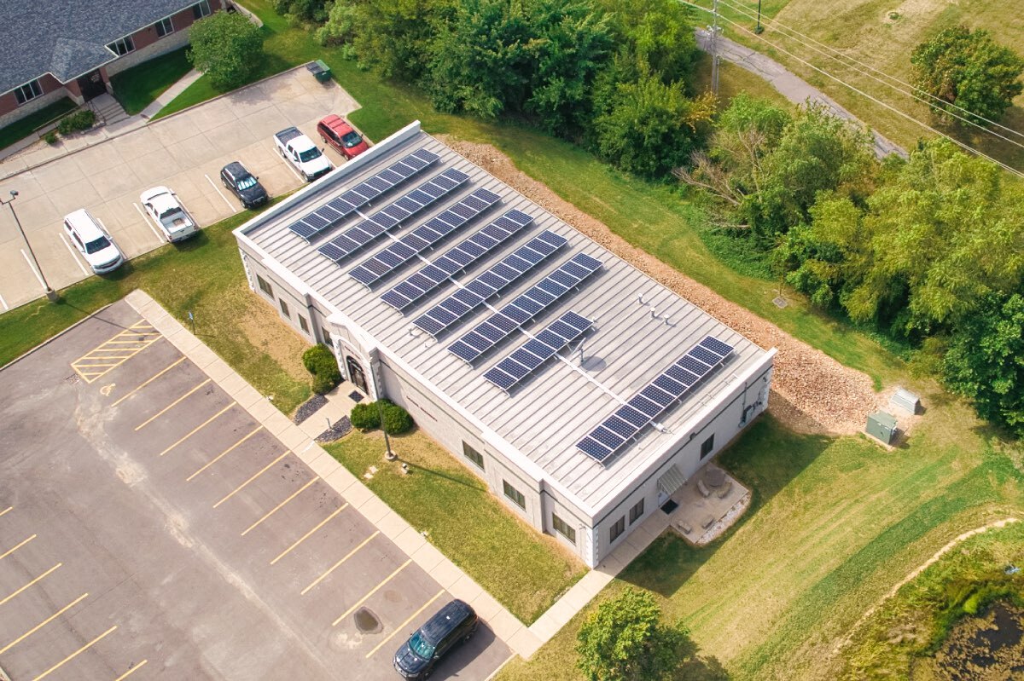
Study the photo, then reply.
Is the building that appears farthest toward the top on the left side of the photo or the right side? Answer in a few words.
left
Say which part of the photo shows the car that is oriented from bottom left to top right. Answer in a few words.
bottom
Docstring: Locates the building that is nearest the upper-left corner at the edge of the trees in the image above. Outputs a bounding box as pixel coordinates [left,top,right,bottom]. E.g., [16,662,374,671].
[0,0,221,138]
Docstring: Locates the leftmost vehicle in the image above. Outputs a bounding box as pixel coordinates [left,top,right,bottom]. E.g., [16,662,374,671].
[63,208,120,269]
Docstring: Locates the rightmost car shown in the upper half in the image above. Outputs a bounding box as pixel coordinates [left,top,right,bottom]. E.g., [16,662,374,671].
[314,108,370,159]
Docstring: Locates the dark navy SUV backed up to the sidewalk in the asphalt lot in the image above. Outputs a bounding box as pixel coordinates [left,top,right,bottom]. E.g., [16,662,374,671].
[386,596,479,681]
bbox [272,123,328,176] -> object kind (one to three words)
truck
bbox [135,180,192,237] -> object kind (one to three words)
truck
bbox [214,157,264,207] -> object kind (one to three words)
car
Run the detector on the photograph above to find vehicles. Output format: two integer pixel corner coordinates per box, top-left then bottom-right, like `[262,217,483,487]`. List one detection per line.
[214,157,264,207]
[272,123,328,176]
[314,108,370,159]
[135,180,192,237]
[63,208,120,269]
[386,596,479,681]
